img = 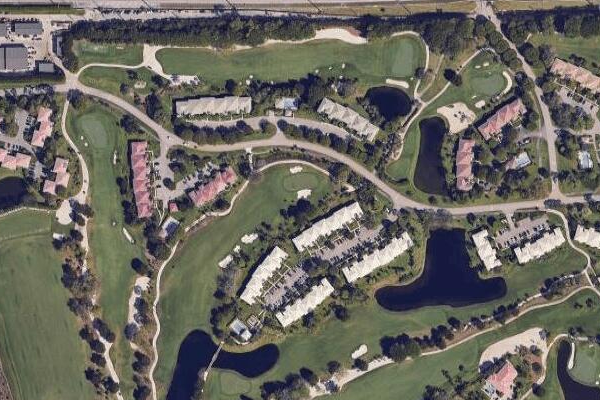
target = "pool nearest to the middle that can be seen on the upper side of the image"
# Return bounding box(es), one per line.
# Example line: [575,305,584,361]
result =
[282,98,298,110]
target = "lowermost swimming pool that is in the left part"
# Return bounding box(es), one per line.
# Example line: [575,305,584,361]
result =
[229,317,246,337]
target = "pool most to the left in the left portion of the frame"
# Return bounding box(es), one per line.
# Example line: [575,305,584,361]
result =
[159,214,182,238]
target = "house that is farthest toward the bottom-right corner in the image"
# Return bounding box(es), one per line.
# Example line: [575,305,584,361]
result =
[485,360,523,398]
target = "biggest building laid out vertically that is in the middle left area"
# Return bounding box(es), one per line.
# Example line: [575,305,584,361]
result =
[130,140,153,218]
